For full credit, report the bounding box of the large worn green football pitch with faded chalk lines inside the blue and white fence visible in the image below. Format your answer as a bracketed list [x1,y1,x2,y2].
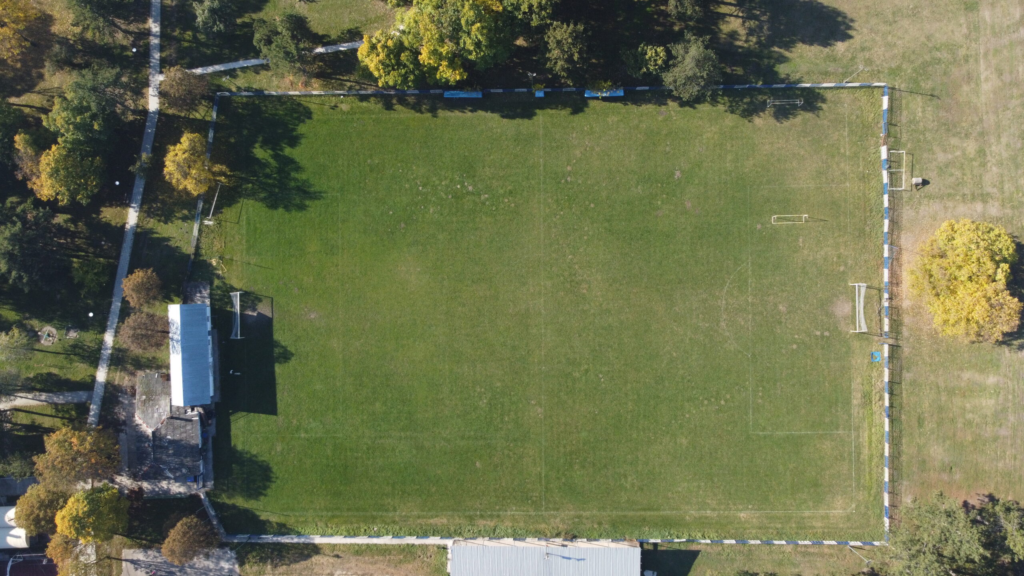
[244,106,860,517]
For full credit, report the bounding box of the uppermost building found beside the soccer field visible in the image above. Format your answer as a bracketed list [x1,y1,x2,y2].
[170,304,216,407]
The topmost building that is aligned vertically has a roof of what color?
blue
